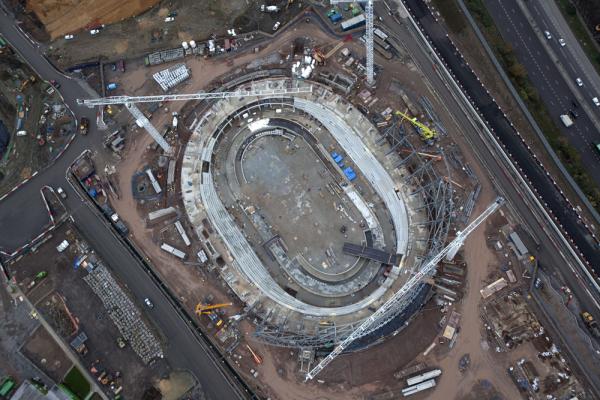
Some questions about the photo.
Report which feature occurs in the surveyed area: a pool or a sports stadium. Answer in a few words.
sports stadium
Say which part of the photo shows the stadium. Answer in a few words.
center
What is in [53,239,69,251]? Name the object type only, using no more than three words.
vehicle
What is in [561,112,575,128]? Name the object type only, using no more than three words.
vehicle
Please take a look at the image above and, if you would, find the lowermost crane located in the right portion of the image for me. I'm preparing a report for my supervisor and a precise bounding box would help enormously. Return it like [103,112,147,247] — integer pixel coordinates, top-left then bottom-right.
[304,196,506,380]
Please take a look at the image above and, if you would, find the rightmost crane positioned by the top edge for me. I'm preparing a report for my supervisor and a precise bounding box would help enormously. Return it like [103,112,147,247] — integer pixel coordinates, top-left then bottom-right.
[330,0,383,93]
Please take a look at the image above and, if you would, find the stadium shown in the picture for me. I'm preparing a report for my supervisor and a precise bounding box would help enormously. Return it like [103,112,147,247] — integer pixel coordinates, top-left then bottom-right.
[181,60,458,360]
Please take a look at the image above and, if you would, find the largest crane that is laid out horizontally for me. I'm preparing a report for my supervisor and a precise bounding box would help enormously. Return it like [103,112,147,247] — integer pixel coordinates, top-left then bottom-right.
[77,88,313,158]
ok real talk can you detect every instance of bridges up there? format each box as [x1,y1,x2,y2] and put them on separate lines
[342,242,401,267]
